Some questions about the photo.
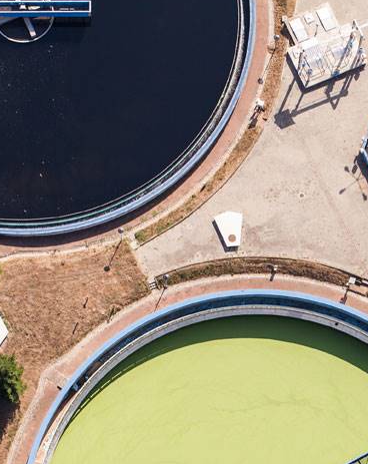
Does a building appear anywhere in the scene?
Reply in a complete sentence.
No, this view has no building in it.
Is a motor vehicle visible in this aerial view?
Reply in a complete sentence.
No, there isn't any motor vehicle down there.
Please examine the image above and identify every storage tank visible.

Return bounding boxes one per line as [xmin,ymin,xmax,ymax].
[26,289,368,464]
[0,0,257,239]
